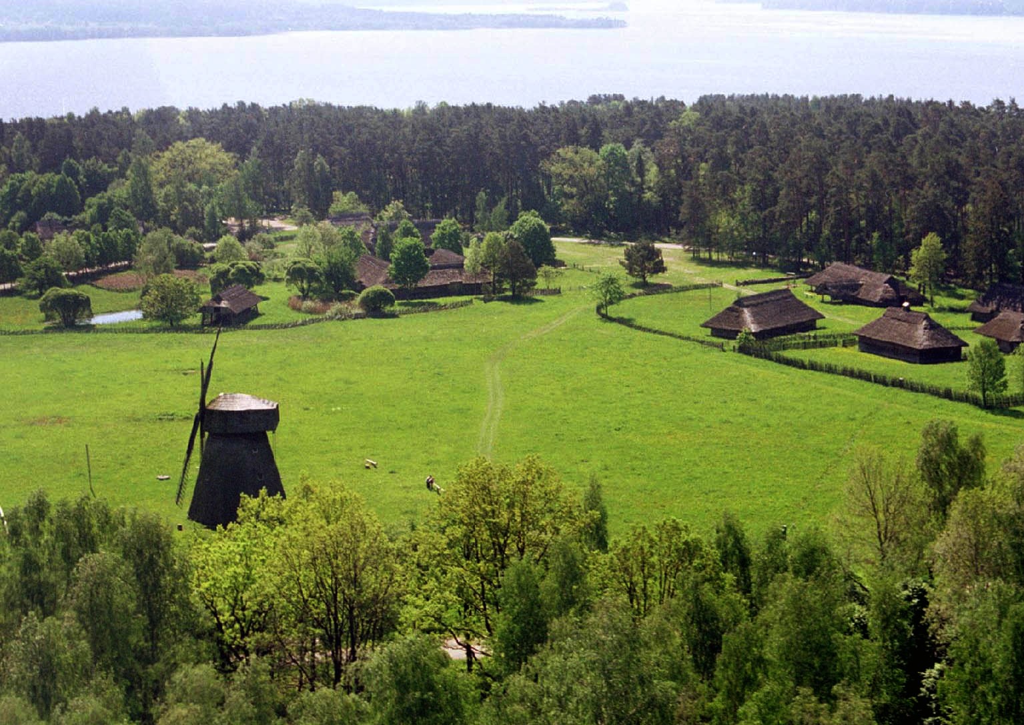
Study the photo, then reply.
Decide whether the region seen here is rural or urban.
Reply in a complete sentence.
The land in this view is best described as rural.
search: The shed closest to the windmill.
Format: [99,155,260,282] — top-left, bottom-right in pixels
[198,282,264,326]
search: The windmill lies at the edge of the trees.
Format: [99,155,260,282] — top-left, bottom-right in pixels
[171,320,287,529]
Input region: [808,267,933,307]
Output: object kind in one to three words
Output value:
barn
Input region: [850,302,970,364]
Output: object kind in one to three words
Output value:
house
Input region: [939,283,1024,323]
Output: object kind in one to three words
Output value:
house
